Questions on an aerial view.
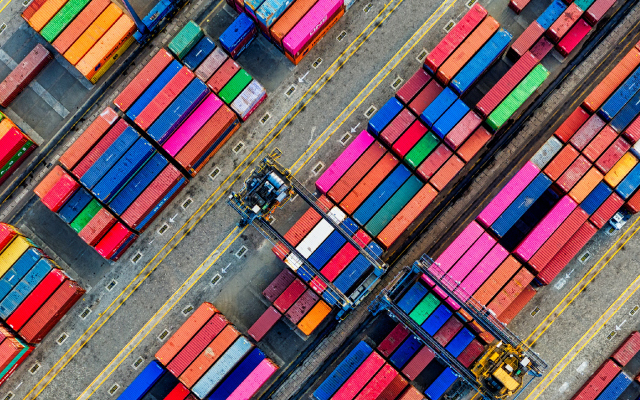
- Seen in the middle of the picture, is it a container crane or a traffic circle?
container crane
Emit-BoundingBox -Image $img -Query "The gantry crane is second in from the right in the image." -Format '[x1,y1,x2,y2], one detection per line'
[219,148,394,320]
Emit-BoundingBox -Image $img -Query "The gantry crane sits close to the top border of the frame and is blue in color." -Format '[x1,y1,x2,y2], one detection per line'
[119,0,186,46]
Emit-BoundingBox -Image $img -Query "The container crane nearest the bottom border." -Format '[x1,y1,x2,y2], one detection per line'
[367,254,552,400]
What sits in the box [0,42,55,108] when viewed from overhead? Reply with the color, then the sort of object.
pink shipping container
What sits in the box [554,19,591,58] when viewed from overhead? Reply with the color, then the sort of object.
red shipping container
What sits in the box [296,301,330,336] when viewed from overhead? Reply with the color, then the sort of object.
orange shipping container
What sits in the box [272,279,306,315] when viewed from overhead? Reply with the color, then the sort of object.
red shipping container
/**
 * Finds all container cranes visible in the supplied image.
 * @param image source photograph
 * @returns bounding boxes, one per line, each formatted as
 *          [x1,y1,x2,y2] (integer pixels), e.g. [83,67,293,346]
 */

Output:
[119,0,186,46]
[219,148,394,320]
[367,254,552,400]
